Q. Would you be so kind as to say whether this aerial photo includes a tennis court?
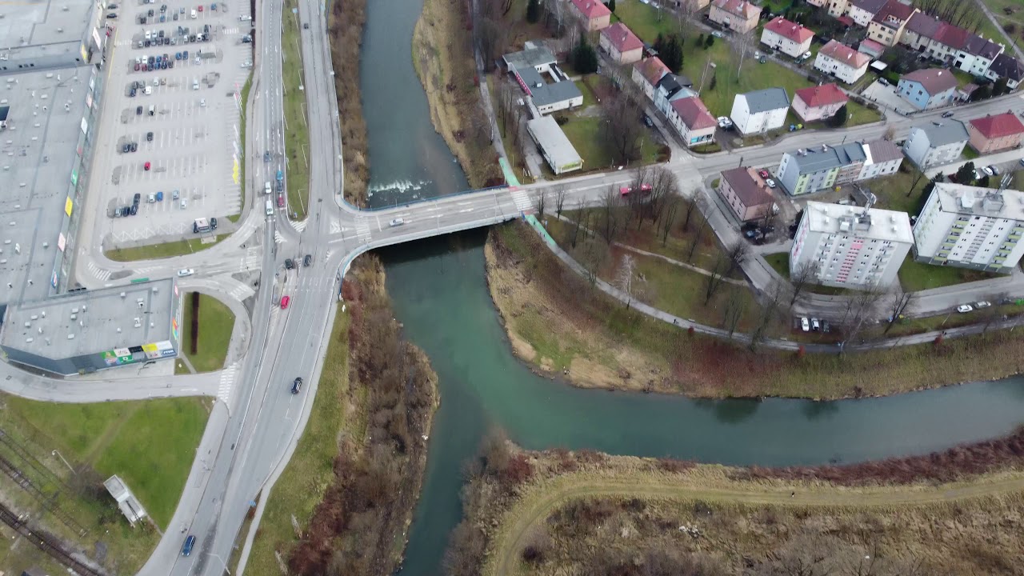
No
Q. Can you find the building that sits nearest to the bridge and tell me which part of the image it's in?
top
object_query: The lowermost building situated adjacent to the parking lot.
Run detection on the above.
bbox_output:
[0,277,184,380]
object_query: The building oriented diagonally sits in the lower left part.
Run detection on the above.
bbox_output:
[103,474,153,530]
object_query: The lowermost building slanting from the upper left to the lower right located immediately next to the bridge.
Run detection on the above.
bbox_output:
[527,114,582,178]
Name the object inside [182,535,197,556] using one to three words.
car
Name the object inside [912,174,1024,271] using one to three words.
building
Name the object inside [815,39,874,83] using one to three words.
house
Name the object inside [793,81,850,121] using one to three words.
house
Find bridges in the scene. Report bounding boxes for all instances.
[335,182,522,288]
